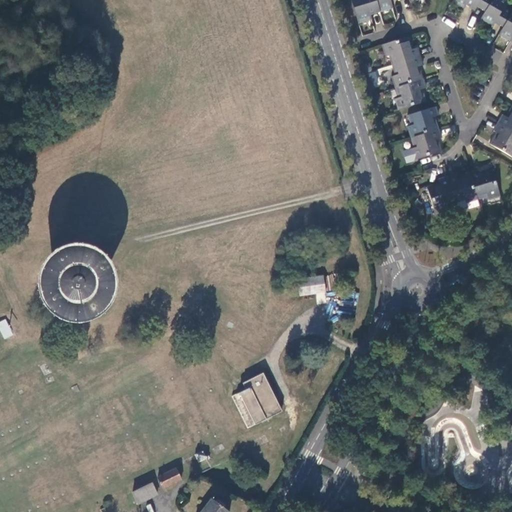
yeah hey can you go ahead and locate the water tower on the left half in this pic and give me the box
[38,243,119,324]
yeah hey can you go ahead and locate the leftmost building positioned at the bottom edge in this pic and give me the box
[131,480,158,506]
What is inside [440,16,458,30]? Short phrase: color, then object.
white vehicle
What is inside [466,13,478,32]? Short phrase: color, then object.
white vehicle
